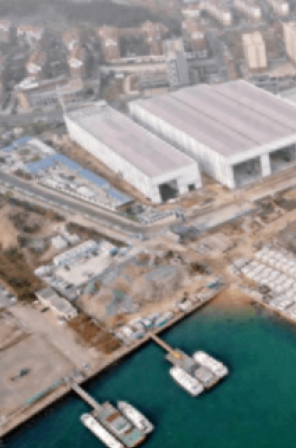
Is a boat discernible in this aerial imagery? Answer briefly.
Yes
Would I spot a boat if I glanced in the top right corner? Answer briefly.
No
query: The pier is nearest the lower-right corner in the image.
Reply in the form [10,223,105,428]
[163,348,220,388]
